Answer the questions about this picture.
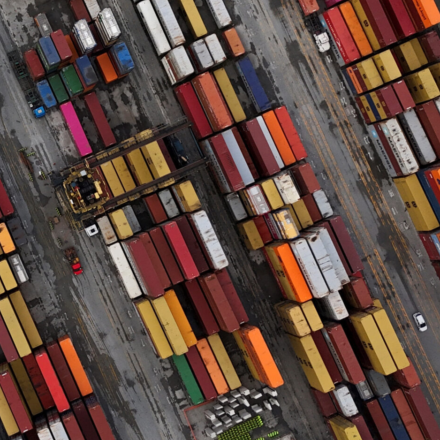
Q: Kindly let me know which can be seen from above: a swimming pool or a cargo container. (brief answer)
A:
cargo container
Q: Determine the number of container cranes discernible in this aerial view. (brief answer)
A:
1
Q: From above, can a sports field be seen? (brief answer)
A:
No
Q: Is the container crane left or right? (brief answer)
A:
left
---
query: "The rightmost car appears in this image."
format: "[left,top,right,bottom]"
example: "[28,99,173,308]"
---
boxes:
[413,312,427,332]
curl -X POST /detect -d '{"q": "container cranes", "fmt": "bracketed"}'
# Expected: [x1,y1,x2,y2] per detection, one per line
[43,115,209,226]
